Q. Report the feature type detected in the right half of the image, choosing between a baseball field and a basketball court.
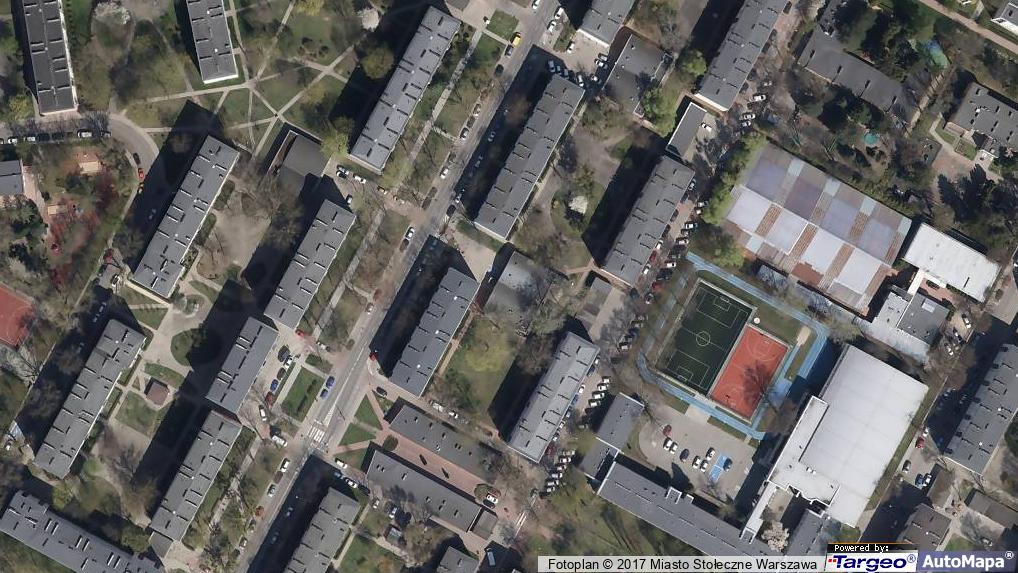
basketball court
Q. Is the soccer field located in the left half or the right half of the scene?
right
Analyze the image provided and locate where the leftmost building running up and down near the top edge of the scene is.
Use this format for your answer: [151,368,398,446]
[23,0,80,117]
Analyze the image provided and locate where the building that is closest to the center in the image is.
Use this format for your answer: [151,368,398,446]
[484,251,553,327]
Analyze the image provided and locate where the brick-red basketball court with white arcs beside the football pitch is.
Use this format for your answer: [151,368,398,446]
[711,324,791,421]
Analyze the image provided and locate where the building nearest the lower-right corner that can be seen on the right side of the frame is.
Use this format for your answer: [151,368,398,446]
[970,491,1018,534]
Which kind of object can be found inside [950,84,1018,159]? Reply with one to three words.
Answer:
house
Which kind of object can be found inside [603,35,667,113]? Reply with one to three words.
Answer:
building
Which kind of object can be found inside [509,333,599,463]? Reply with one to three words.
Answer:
building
